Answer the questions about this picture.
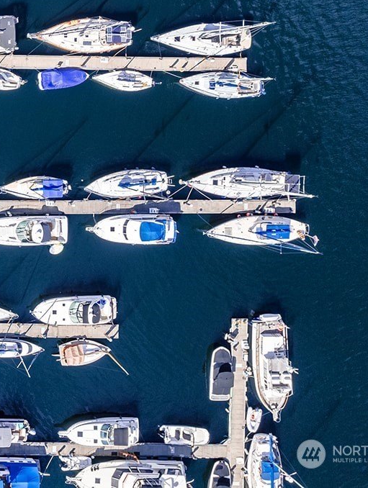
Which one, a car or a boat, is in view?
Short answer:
boat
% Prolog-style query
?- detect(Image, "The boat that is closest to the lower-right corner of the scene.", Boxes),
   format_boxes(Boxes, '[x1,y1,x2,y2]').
[243,431,305,488]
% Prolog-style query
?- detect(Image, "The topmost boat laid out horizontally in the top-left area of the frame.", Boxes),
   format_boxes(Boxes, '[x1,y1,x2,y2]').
[25,17,140,55]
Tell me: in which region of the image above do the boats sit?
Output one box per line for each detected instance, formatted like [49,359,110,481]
[62,455,89,470]
[206,461,230,488]
[25,17,140,55]
[91,71,163,91]
[165,71,276,100]
[83,214,179,244]
[0,18,21,53]
[0,417,34,449]
[53,335,131,376]
[208,346,233,400]
[152,13,280,57]
[28,295,119,328]
[248,405,262,432]
[169,164,321,205]
[0,336,46,378]
[243,431,305,488]
[0,178,73,200]
[0,211,71,247]
[59,415,144,448]
[48,245,64,254]
[64,450,192,488]
[35,69,96,93]
[0,67,28,89]
[246,315,307,426]
[200,214,325,256]
[160,422,209,448]
[0,453,53,488]
[83,168,177,202]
